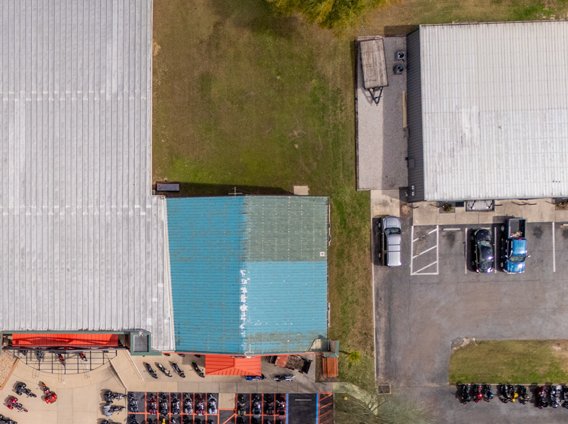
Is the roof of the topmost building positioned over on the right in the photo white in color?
Yes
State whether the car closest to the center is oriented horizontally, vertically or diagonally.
vertically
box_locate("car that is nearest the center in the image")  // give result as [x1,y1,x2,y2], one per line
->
[379,217,404,266]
